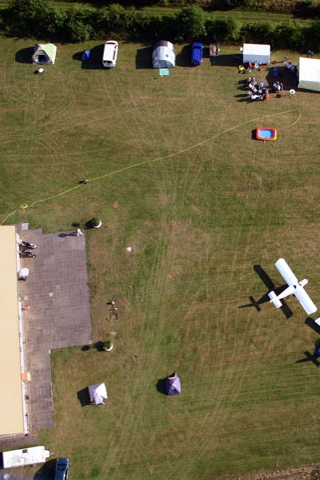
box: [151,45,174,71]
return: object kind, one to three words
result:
tent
